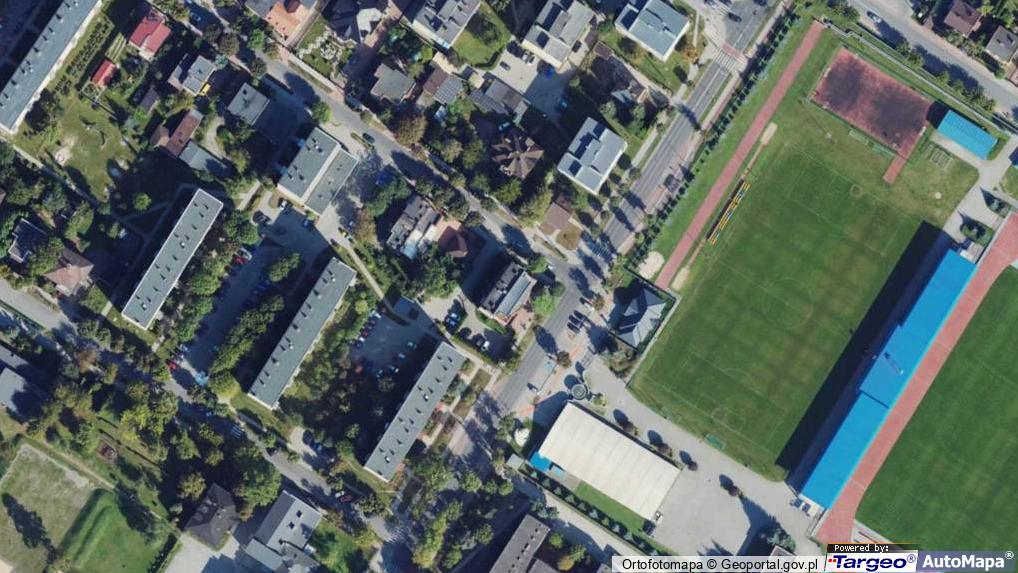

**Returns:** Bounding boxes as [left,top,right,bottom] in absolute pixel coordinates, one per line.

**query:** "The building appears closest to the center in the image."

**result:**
[479,262,536,326]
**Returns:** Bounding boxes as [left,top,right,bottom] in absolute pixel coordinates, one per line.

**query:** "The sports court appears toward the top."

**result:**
[808,47,933,184]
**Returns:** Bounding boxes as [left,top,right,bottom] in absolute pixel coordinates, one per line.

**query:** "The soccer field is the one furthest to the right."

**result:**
[855,264,1018,573]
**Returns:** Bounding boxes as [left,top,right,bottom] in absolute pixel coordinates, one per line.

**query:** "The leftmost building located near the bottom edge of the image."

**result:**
[186,483,237,551]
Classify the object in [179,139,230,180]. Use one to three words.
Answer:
shed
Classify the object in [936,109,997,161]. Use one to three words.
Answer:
building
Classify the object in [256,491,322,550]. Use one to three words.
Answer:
house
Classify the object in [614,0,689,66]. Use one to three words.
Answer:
house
